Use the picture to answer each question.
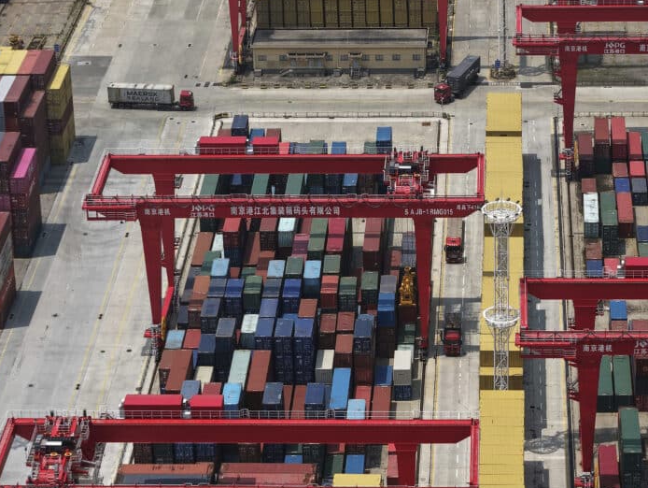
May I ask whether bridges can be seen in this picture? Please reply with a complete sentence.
No, I can see no bridge in this picture.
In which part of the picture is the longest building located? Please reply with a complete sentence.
You can find the longest building in the top area of the picture.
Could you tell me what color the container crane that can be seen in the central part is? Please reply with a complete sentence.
The container crane that can be seen in the central part is red.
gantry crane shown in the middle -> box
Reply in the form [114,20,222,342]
[82,133,490,355]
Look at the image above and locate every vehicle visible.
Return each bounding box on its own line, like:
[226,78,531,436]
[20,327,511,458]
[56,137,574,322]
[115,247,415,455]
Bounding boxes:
[436,65,483,101]
[447,219,465,254]
[443,297,464,352]
[104,86,196,106]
